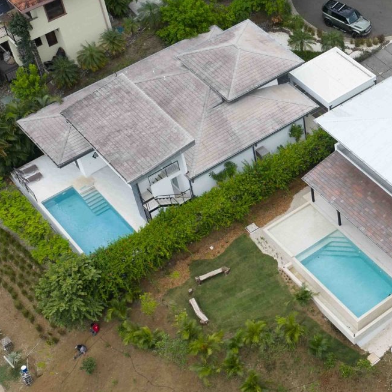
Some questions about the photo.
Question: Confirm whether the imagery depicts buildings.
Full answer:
Yes, looking at the shot, I can spot a building.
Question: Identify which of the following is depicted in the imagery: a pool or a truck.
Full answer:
The one in the frame is a pool.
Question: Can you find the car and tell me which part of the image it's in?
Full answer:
The car is in the top right part of the image.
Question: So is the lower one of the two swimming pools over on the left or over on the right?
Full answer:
You can find the lower one of the two swimming pools on the right side of the picture.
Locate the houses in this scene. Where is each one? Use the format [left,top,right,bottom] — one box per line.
[262,78,392,347]
[8,18,321,275]
[0,0,110,61]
